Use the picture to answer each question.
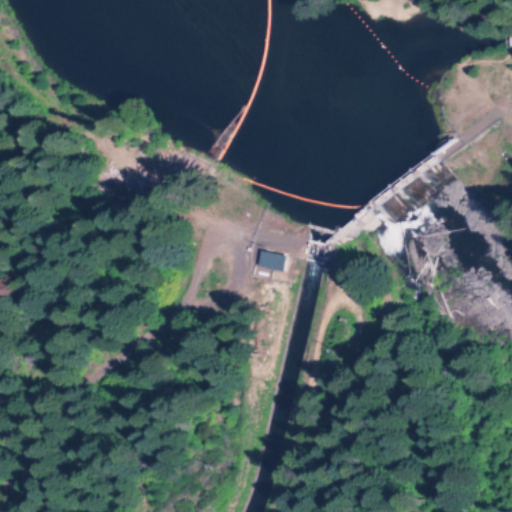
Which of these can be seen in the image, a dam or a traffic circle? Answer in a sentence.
This aerial view contains a dam.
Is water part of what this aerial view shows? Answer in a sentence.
Yes, there is water in the image.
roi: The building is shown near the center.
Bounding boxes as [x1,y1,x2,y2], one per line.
[259,250,285,271]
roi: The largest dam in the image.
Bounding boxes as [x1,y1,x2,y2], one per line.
[320,135,466,250]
